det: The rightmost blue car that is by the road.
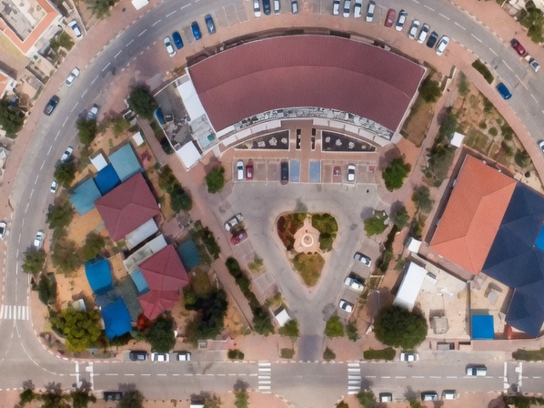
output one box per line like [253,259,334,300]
[496,81,511,100]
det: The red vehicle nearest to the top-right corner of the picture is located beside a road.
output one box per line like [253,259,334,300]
[511,39,525,56]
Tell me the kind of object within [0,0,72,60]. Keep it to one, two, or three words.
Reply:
house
